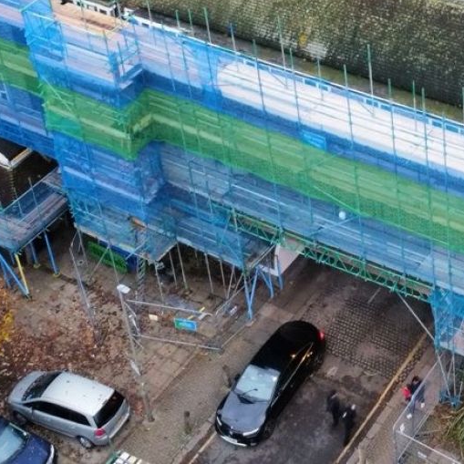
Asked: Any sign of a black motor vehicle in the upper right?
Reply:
No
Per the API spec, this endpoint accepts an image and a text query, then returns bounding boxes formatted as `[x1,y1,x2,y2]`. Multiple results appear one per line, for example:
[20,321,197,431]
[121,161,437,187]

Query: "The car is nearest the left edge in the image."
[0,410,55,464]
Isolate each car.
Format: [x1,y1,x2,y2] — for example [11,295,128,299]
[220,319,335,438]
[13,357,124,447]
[0,410,55,464]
